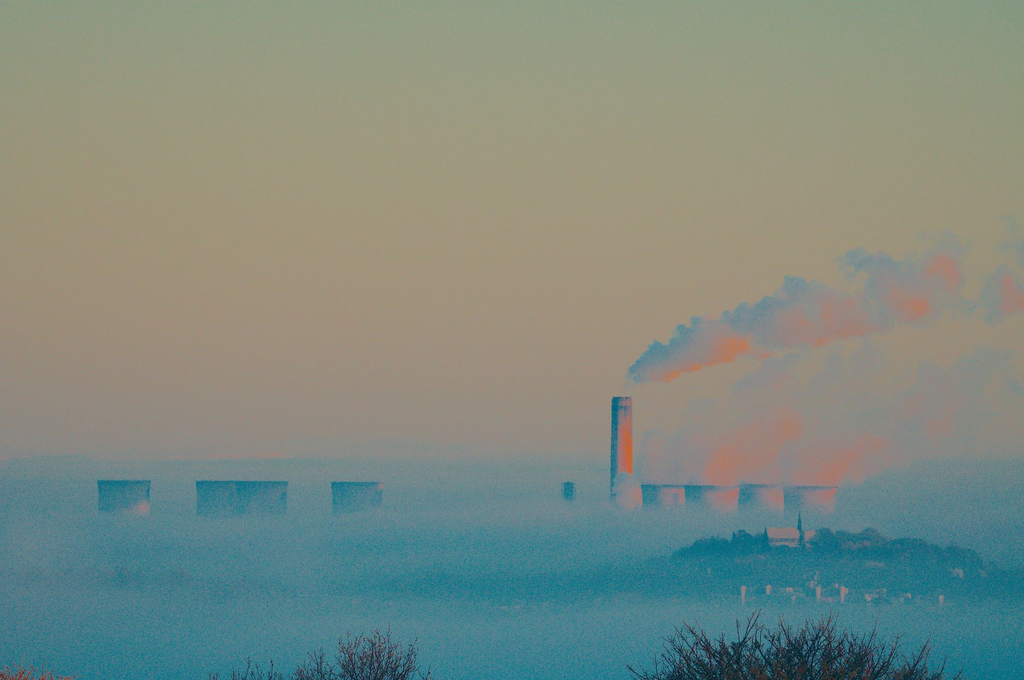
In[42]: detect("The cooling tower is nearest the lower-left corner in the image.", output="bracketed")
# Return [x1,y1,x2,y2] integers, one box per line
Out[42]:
[84,481,165,566]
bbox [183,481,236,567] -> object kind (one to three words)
cooling tower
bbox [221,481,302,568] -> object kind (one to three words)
cooling tower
